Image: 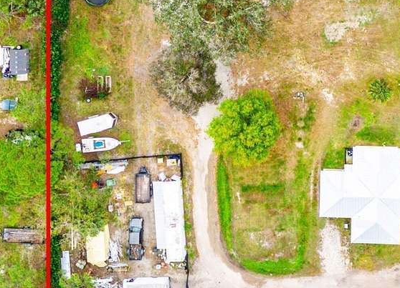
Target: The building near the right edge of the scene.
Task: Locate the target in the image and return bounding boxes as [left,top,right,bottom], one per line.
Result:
[320,146,400,245]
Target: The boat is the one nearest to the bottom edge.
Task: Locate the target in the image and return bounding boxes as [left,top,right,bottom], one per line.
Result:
[73,136,128,154]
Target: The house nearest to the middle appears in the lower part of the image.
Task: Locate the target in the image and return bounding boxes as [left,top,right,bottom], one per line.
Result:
[153,178,186,263]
